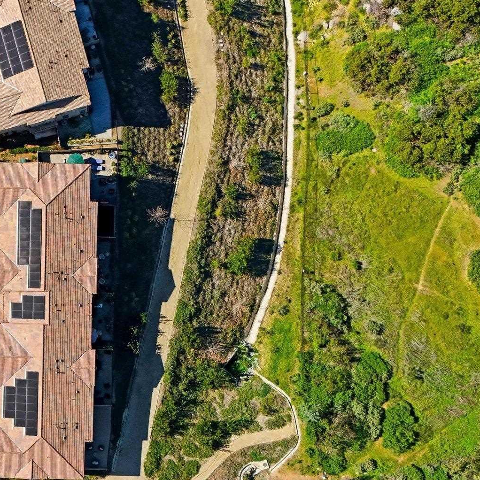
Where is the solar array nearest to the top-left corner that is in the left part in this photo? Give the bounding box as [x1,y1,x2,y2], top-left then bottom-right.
[0,23,34,78]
